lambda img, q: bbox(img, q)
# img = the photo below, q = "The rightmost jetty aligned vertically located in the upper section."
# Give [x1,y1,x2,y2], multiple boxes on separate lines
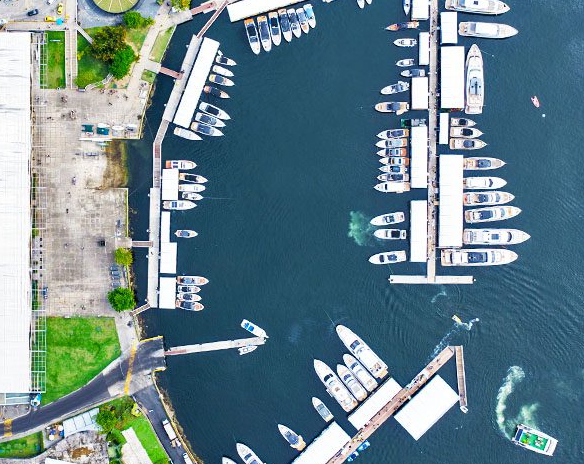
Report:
[427,0,440,276]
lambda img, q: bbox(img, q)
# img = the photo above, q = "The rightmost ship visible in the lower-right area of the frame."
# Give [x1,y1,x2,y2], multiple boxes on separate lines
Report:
[507,423,559,455]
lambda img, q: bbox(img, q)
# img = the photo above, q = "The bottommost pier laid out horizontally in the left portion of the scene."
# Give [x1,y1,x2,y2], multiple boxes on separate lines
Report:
[165,337,265,355]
